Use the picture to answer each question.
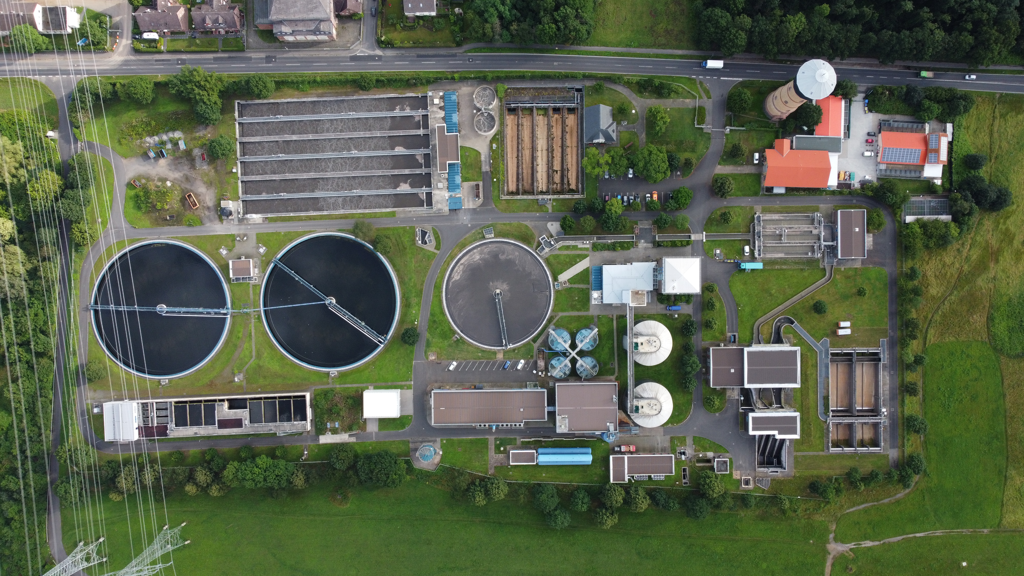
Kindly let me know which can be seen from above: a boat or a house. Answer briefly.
house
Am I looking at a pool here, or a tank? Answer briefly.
tank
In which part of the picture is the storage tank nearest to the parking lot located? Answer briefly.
top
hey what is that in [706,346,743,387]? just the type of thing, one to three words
building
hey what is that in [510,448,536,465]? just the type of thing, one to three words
house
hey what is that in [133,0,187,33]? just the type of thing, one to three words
house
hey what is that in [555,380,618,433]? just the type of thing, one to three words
building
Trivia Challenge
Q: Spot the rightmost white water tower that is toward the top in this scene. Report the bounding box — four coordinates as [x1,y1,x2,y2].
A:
[759,60,837,124]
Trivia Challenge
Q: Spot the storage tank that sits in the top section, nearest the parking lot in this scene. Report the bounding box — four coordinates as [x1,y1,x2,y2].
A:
[499,86,585,199]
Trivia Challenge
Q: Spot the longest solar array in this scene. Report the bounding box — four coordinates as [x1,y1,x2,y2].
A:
[882,147,921,163]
